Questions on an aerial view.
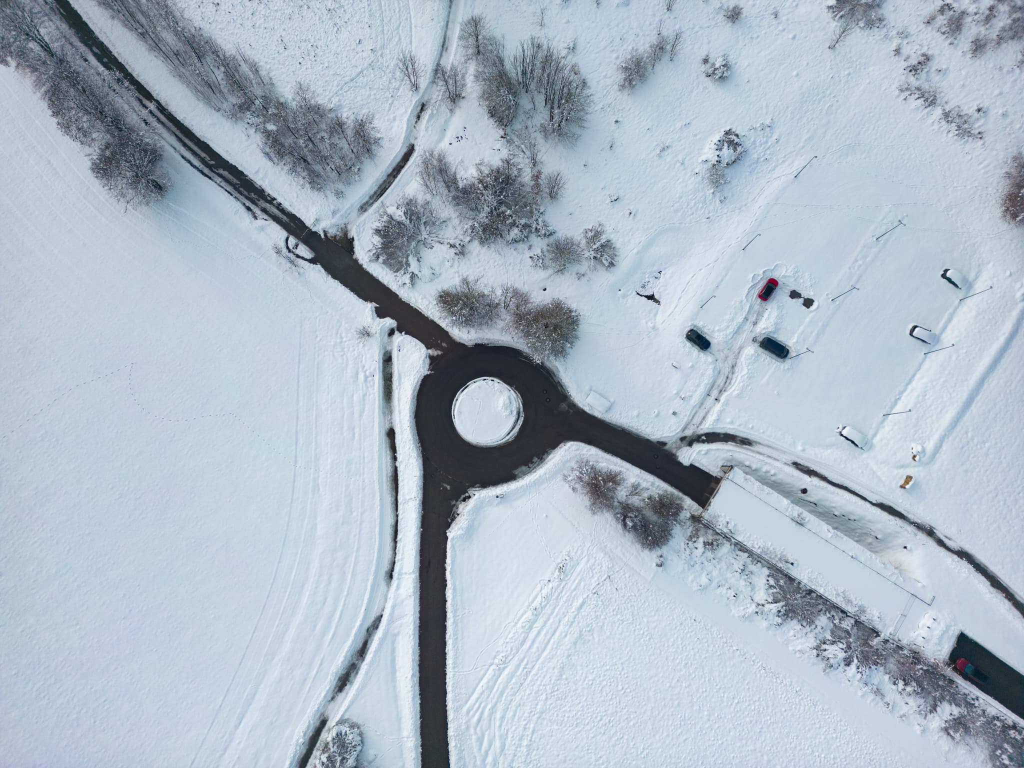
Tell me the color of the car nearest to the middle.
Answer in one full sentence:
The car nearest to the middle looks black in the image.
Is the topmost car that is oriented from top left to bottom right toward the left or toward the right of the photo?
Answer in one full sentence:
The topmost car that is oriented from top left to bottom right appears in the right half of the scene.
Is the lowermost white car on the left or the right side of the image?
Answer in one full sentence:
The lowermost white car is on the right side of the image.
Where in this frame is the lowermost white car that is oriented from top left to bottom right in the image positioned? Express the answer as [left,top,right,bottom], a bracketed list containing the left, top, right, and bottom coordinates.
[839,424,872,451]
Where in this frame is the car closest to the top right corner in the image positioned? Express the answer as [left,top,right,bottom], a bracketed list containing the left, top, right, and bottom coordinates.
[939,267,969,293]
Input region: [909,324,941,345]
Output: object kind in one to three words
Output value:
car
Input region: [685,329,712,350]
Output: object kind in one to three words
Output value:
car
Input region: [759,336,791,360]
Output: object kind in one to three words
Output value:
vehicle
